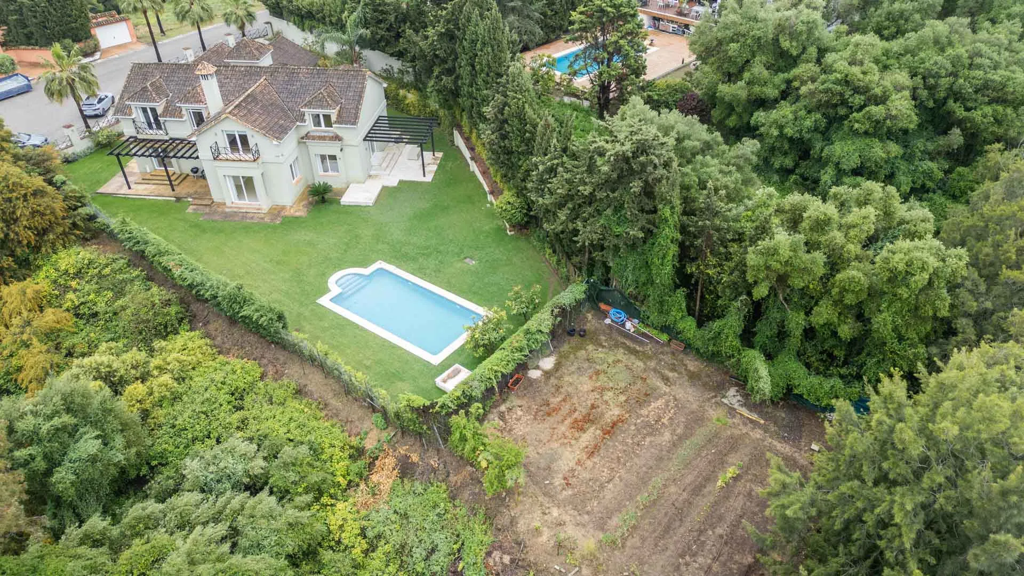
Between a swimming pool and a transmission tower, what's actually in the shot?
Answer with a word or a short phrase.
swimming pool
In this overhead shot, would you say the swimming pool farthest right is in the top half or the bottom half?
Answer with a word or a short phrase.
top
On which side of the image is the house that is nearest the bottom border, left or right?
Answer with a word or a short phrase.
left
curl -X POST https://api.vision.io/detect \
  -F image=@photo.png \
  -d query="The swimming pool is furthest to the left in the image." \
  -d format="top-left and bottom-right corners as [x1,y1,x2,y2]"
[317,261,488,364]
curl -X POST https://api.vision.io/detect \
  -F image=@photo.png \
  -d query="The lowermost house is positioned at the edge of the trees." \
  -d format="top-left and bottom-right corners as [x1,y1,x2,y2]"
[114,36,391,211]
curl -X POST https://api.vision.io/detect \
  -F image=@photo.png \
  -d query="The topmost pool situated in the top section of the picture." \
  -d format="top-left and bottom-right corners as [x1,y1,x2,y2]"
[546,41,657,80]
